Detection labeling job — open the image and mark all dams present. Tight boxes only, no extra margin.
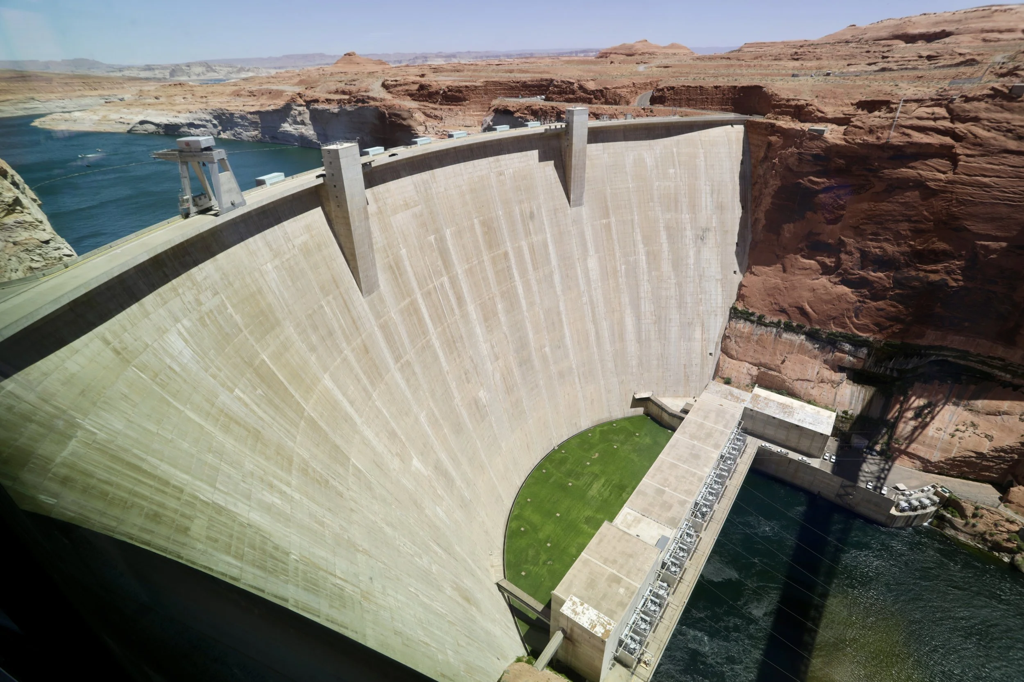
[0,114,761,682]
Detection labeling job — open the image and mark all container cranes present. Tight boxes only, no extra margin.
[141,131,249,218]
